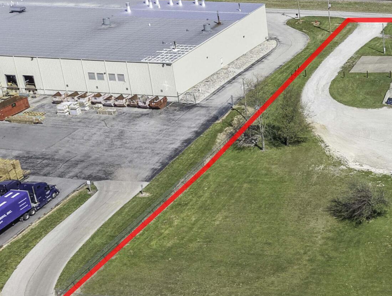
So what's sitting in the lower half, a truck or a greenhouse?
truck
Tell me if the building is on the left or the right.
left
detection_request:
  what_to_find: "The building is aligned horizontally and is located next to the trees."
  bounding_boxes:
[0,0,268,100]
